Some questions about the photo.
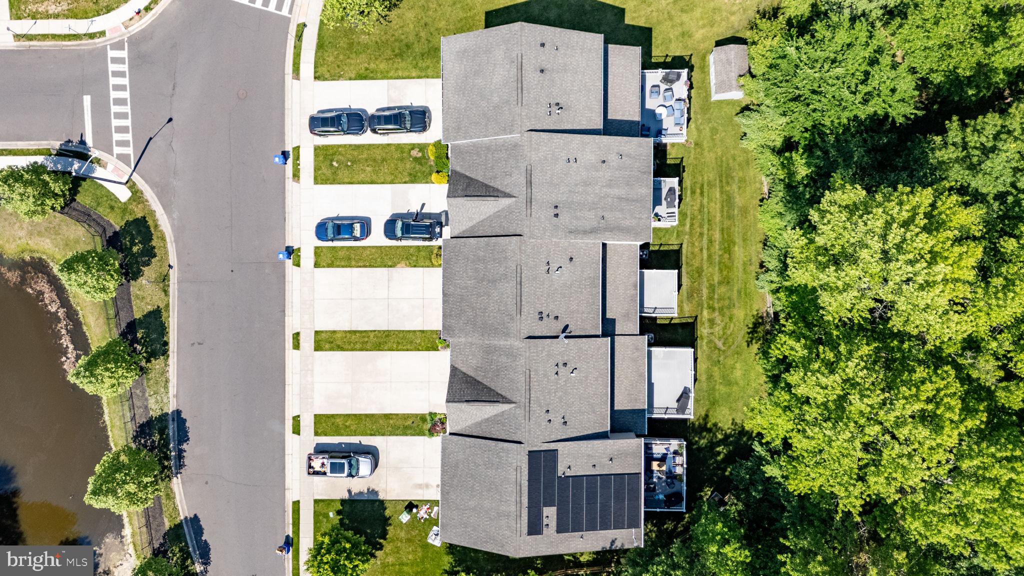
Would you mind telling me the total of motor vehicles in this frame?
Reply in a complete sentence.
In total, 5 motor vehicles can be seen.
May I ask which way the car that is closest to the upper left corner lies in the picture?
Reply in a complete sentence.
Seen from above, the car that is closest to the upper left corner lies horizontally.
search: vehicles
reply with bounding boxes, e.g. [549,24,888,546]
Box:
[306,450,377,481]
[380,206,446,245]
[308,108,370,139]
[314,217,371,245]
[369,105,430,136]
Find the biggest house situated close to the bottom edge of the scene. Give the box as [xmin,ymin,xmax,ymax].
[439,432,644,556]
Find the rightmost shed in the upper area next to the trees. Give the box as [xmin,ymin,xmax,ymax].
[709,45,748,101]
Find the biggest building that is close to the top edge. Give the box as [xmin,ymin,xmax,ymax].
[440,23,642,146]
